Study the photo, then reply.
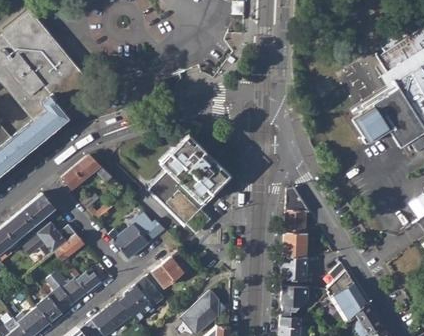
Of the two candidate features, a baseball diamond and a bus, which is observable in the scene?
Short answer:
bus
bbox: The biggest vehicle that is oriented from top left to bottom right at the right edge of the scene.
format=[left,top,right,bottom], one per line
[395,210,410,226]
